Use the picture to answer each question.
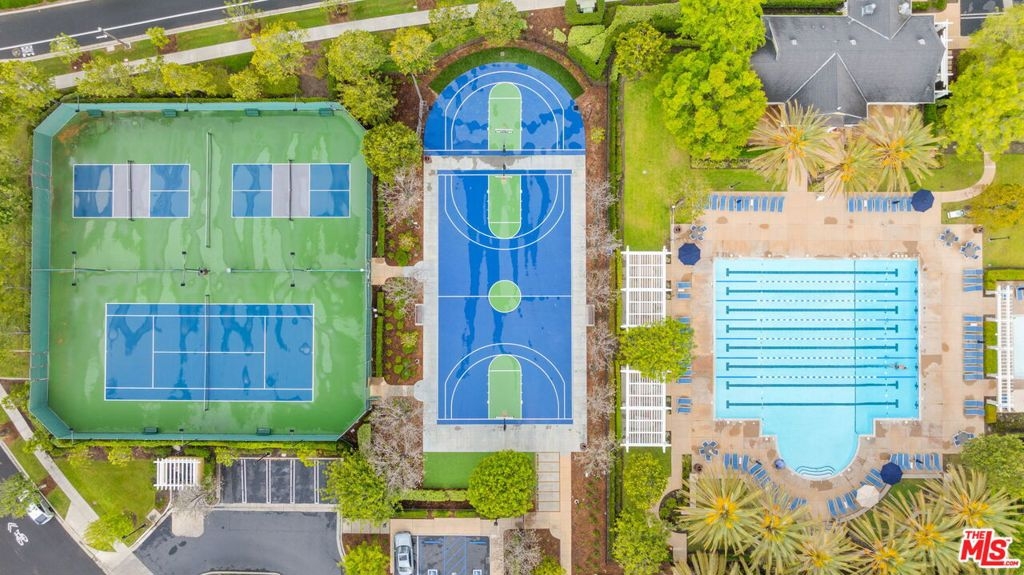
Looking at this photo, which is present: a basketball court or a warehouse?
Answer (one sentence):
Looking from above, you can make out a basketball court.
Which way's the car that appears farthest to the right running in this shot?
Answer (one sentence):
The car that appears farthest to the right runs vertically in the image.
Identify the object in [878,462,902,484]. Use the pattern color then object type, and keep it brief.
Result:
blue umbrella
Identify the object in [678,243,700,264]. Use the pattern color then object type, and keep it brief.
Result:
blue umbrella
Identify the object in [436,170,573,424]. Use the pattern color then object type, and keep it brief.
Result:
blue basketball court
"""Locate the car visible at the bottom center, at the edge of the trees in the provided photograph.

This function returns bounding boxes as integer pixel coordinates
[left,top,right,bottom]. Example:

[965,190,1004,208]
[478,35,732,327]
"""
[393,529,413,574]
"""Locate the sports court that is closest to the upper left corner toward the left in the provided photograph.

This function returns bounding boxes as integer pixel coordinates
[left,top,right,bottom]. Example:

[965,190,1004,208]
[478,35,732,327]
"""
[73,164,189,217]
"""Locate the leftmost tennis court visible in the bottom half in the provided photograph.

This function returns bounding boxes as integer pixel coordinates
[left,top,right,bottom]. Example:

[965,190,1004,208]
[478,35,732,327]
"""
[105,304,313,402]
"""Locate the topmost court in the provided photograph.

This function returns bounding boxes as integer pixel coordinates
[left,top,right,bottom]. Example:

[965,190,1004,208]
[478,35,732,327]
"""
[424,62,584,154]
